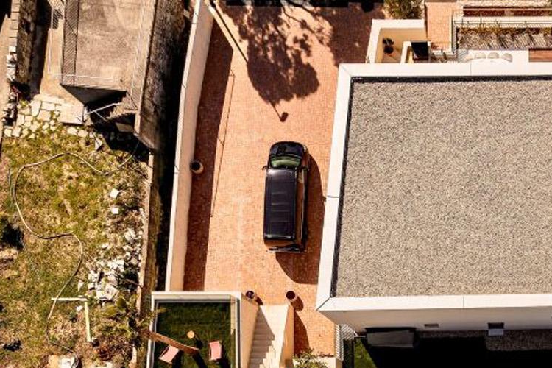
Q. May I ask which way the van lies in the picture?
from top to bottom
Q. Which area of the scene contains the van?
center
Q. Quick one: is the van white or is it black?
black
